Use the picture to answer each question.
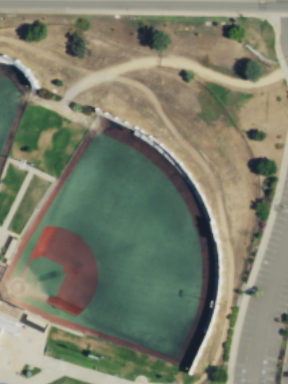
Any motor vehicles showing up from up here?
No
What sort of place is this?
sports ground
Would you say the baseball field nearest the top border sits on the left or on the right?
left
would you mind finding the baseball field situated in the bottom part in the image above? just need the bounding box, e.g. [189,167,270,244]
[1,110,218,374]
